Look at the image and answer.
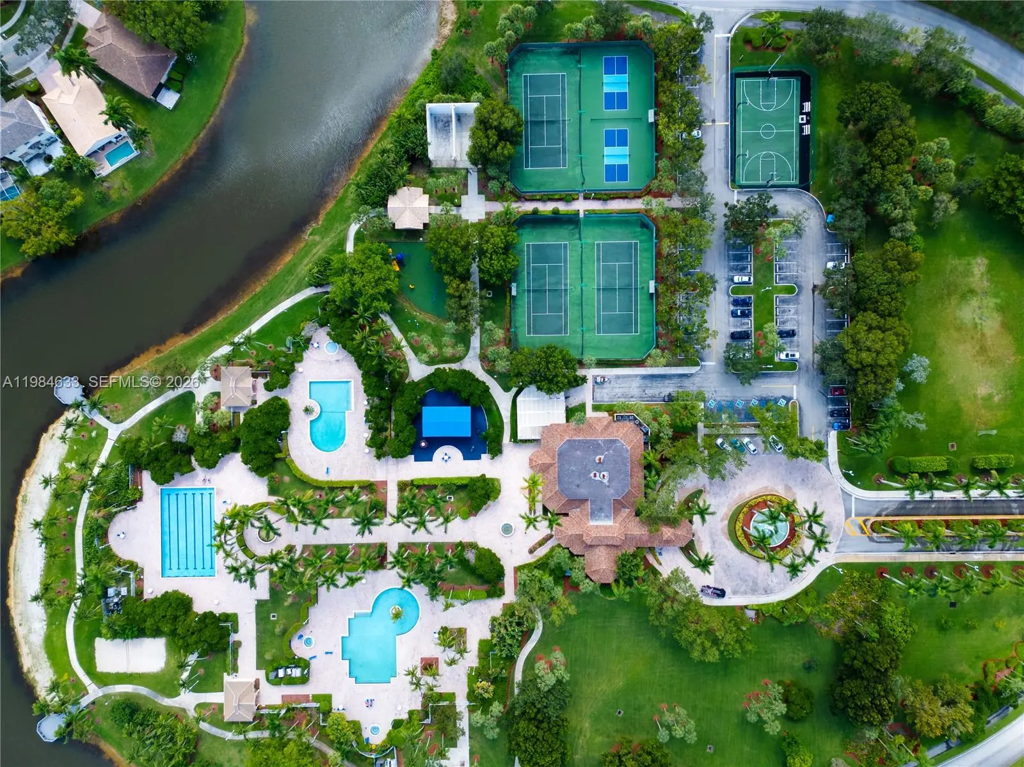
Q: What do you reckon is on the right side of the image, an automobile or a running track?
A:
automobile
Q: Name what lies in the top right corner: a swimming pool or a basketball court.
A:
basketball court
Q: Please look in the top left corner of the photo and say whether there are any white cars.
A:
No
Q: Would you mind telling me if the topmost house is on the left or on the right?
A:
left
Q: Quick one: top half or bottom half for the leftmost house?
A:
top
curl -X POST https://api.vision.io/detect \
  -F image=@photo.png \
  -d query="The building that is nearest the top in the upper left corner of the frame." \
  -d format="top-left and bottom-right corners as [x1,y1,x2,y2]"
[84,12,177,99]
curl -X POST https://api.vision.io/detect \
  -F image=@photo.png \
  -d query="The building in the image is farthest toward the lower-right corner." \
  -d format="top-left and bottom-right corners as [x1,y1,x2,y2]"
[530,417,693,583]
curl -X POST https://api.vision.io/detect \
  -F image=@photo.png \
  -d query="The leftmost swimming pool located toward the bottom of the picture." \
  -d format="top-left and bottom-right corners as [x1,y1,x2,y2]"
[159,486,217,579]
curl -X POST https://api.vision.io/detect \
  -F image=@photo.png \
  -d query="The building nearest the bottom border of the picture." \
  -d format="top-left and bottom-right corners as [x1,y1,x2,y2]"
[223,678,256,722]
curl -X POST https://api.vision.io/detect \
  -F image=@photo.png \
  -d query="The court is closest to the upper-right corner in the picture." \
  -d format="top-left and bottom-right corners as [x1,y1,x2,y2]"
[732,71,811,186]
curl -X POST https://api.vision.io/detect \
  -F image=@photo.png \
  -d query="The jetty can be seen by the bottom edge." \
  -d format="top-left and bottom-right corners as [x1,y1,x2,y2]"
[35,708,75,743]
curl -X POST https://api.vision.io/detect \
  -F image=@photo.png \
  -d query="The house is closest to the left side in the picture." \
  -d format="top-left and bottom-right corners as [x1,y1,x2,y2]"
[0,94,60,163]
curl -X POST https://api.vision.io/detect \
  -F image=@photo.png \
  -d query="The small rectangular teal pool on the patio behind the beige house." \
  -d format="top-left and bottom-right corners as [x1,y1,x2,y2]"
[103,140,136,167]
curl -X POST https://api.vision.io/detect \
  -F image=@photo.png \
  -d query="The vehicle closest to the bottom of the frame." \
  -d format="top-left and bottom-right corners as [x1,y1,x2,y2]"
[700,585,725,598]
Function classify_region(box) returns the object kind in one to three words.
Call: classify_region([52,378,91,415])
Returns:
pier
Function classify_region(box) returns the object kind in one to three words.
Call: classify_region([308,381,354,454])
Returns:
swimming pool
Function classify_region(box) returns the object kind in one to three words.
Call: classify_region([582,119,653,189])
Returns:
sports court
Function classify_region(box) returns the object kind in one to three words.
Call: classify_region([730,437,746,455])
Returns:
car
